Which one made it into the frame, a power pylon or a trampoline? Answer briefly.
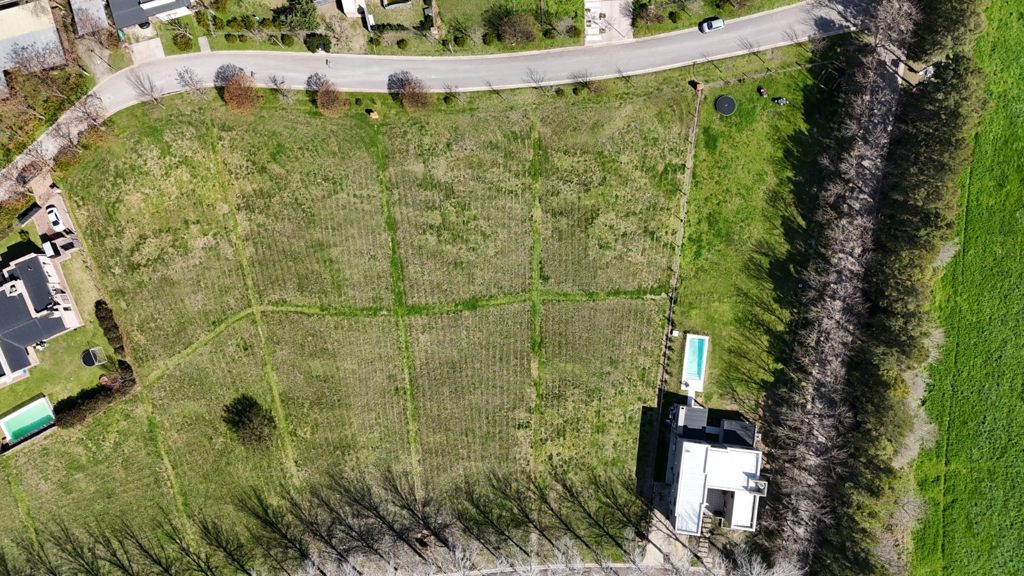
trampoline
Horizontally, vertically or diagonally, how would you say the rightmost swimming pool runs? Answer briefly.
vertically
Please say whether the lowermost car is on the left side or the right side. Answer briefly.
left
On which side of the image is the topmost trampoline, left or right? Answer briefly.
right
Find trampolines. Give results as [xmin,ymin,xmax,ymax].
[714,94,737,117]
[81,349,99,367]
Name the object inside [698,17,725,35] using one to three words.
car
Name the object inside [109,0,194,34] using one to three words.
house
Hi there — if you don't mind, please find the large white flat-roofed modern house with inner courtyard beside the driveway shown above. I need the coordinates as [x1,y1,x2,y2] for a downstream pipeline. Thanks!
[666,403,767,536]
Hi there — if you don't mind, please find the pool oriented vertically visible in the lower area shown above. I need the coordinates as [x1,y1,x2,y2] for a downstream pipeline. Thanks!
[681,334,709,392]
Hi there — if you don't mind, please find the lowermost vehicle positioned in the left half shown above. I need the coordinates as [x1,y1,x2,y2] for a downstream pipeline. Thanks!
[45,205,67,233]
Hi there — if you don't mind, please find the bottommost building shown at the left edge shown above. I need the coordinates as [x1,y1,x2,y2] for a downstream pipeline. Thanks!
[0,253,81,383]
